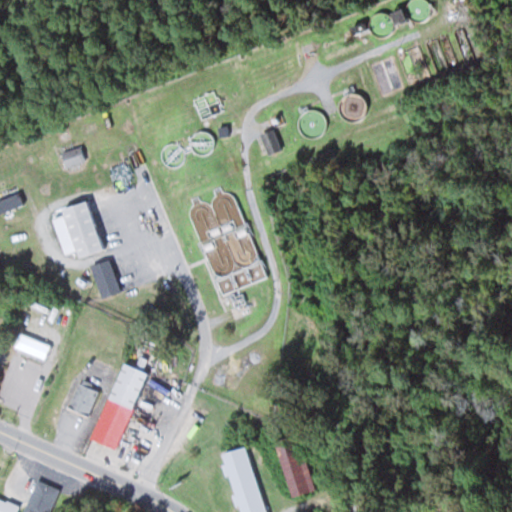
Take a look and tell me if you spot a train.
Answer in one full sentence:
No, there is no train in the image.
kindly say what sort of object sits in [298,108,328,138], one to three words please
storage tank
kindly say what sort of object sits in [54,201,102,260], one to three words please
building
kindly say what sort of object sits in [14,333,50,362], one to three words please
building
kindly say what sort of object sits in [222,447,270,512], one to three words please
barn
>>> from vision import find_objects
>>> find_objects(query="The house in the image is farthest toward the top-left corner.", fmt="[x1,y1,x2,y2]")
[62,146,87,168]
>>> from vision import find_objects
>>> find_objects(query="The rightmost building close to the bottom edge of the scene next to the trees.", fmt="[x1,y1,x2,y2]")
[276,444,314,498]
